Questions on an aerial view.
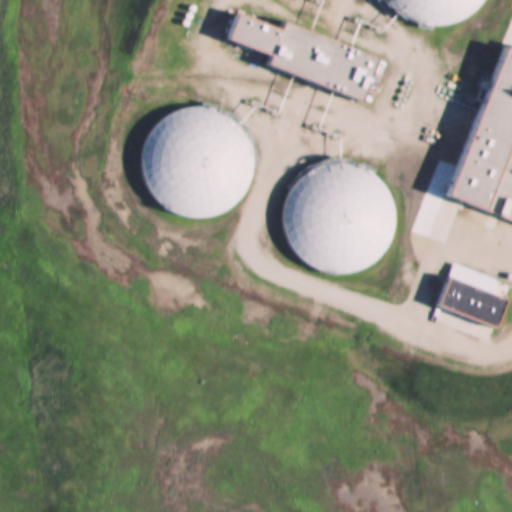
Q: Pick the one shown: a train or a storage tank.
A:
storage tank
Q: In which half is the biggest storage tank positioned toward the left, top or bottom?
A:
top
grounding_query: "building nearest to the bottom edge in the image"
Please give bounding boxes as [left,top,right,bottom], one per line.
[436,263,509,327]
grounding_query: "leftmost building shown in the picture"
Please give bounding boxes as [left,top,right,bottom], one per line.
[227,14,378,100]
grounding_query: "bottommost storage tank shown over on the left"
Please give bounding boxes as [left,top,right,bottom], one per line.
[140,100,256,220]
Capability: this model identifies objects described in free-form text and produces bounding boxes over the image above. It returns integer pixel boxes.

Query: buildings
[227,14,378,100]
[436,263,509,327]
[444,50,512,224]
